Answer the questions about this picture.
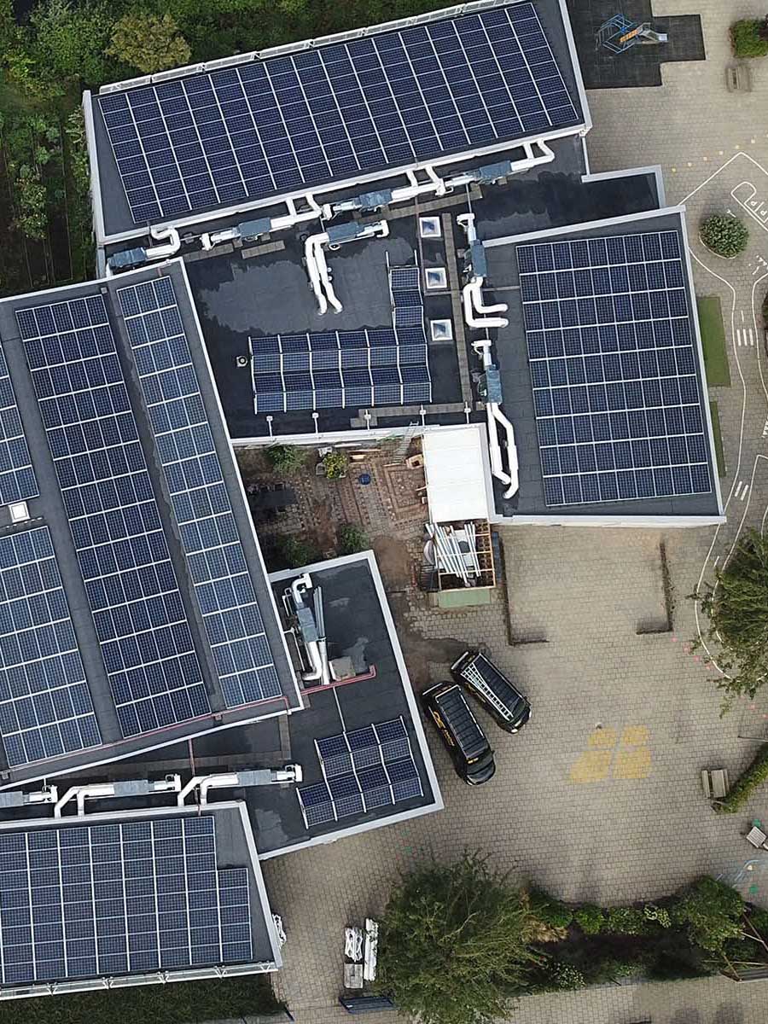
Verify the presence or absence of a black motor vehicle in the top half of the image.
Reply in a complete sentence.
No, there is no black motor vehicle in the top half of the image.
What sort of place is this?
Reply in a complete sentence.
The area seen from above is a solar farm.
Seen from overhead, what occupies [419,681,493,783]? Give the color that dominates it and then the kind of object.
black van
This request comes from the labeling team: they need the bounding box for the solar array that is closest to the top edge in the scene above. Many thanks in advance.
[98,3,579,222]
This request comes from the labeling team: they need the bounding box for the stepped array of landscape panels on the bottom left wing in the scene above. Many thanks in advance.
[0,816,252,984]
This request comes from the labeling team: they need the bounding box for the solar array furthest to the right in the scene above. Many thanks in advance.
[517,230,711,506]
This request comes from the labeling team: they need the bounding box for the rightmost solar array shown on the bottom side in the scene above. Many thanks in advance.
[296,715,417,822]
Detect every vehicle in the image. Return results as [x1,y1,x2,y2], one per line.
[449,649,530,733]
[419,681,493,783]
